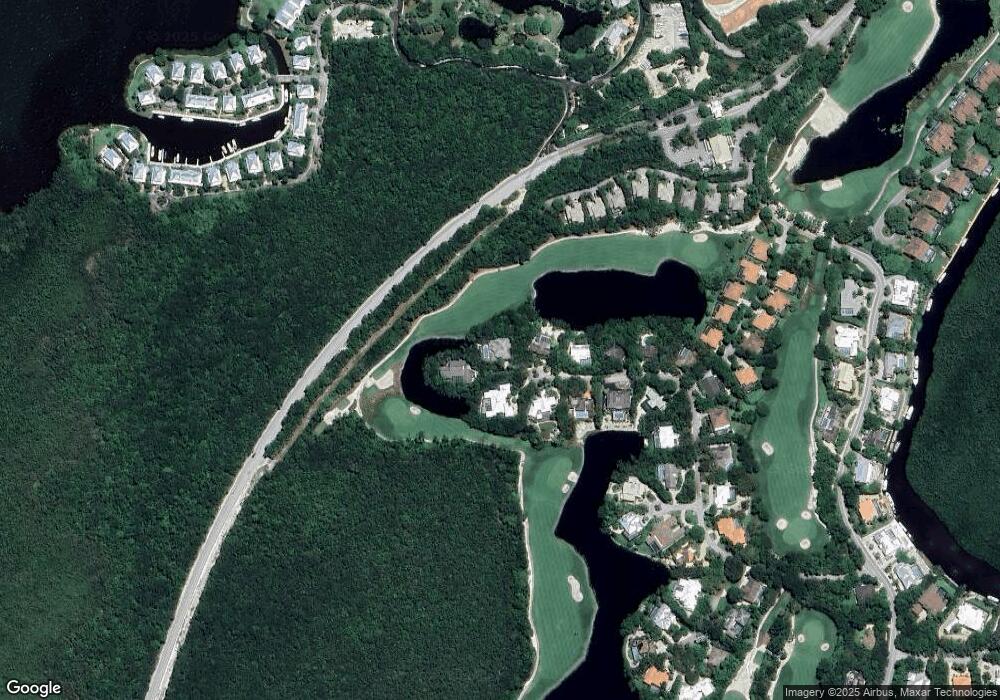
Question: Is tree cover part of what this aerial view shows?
Yes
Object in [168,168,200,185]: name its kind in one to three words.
house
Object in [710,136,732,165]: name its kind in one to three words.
building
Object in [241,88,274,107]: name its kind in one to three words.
house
